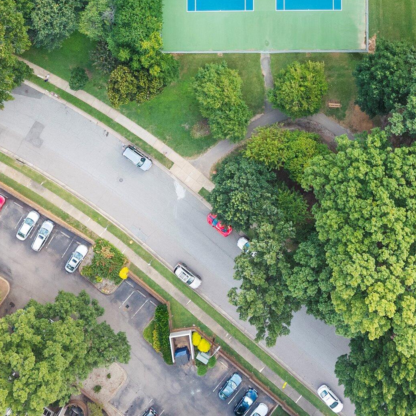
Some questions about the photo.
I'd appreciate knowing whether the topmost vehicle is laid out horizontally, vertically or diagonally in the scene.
diagonally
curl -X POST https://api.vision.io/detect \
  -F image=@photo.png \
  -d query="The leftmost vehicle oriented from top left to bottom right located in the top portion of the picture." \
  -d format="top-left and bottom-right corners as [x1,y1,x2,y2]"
[121,145,153,170]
